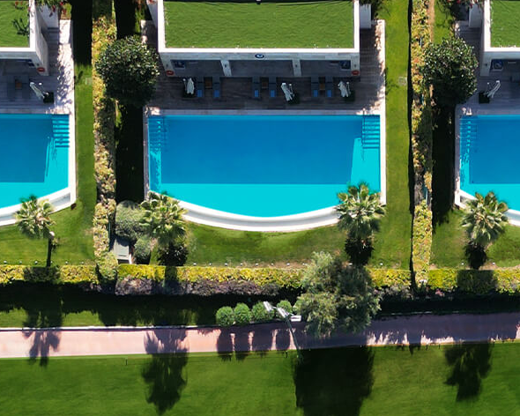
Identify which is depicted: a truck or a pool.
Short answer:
pool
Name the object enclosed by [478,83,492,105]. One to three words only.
umbrella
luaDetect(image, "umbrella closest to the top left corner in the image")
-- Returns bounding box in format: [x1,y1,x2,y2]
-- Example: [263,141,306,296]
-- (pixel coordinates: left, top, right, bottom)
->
[37,83,55,103]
